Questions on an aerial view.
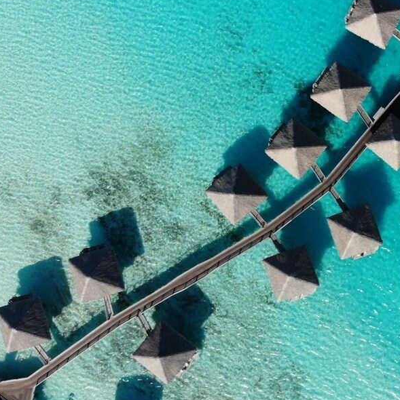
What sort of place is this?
residential area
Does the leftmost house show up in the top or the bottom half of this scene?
bottom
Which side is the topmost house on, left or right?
right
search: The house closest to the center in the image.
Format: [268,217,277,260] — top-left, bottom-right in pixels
[204,162,268,226]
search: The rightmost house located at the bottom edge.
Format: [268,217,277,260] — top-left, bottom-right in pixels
[134,319,199,386]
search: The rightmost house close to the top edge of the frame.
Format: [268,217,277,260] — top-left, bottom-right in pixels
[345,0,400,48]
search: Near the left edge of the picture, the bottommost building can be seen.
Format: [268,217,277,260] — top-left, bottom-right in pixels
[0,292,54,355]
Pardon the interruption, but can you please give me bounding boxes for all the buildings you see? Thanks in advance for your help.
[345,0,400,48]
[262,242,324,303]
[67,242,127,303]
[365,110,400,172]
[0,292,54,355]
[204,162,268,226]
[134,319,199,386]
[310,60,372,123]
[263,117,329,180]
[326,201,385,262]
